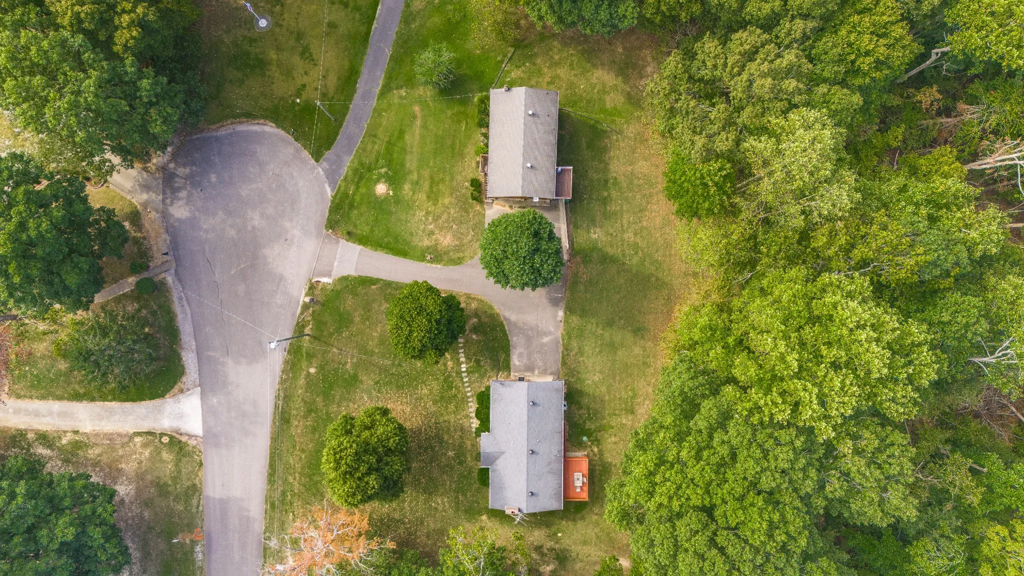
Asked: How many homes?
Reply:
2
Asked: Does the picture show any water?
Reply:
No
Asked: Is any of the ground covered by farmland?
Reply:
No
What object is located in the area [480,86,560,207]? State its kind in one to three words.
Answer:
house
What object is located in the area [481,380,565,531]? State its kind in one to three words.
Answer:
house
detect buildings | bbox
[480,86,560,207]
[481,380,565,531]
